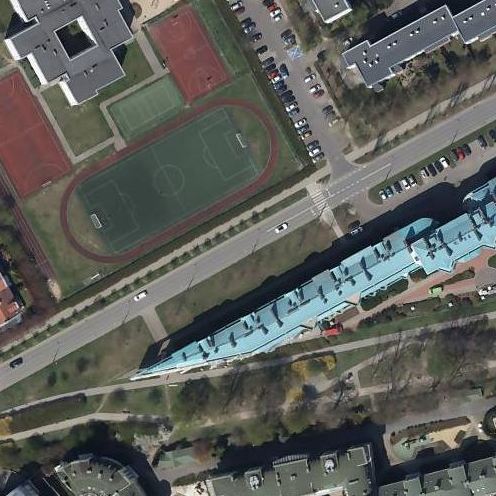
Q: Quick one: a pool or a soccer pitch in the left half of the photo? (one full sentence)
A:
You can see a soccer pitch in the left half of the photo.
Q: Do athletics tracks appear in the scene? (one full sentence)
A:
Yes, I can see an athletics track in this picture.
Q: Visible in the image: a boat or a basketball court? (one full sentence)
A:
There is a basketball court in the scene.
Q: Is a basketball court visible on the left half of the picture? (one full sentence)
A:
Yes, on the left half of the picture there is a basketball court.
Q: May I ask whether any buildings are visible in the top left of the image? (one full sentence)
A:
Yes, a building can be seen in the top left of the image.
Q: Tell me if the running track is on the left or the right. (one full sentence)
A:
The running track sits on the left side.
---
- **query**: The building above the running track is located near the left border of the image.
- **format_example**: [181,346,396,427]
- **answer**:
[9,0,133,106]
